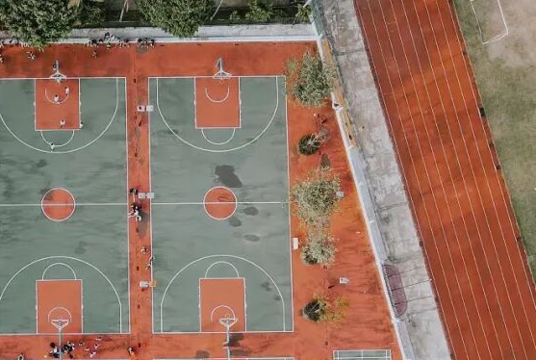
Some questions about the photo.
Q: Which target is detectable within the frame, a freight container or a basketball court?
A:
basketball court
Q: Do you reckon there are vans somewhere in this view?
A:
No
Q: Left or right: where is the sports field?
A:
right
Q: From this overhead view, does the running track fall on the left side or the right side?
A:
right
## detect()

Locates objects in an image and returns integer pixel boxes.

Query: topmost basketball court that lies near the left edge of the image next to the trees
[0,77,130,335]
